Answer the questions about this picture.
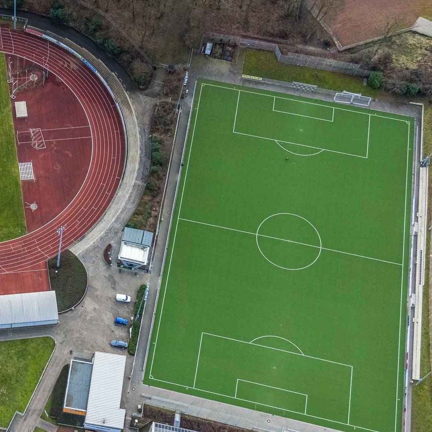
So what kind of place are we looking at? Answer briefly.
sports ground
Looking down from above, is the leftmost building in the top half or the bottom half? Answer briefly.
bottom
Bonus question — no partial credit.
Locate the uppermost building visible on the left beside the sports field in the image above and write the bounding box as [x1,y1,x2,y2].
[117,227,153,270]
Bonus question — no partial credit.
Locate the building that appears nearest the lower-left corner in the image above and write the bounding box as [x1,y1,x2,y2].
[63,352,126,432]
